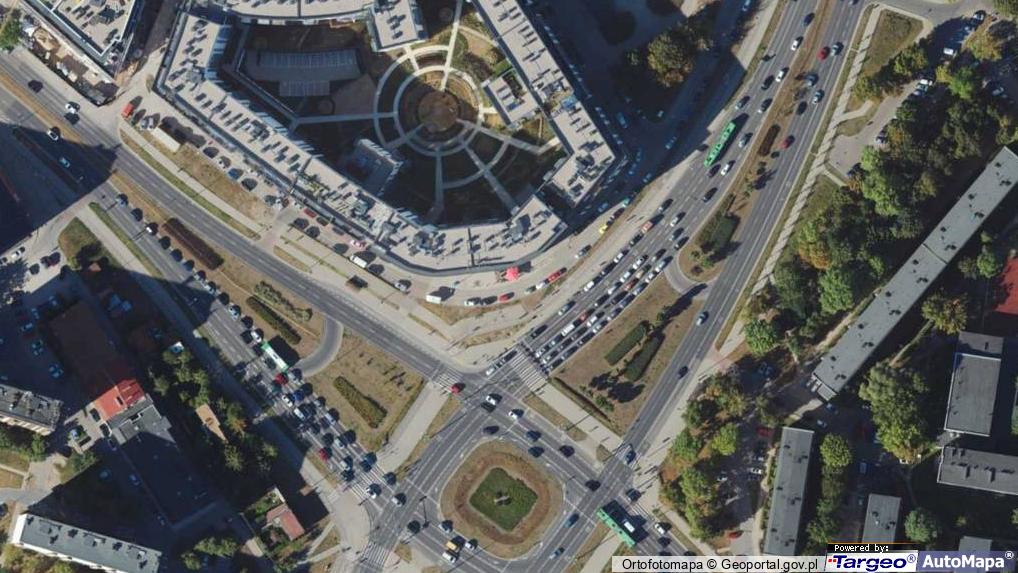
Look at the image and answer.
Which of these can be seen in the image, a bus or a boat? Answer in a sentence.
Visible in the photo is a bus.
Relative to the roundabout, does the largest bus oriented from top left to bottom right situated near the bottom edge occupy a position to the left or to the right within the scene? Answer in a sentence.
Looking at the picture, you'll find the largest bus oriented from top left to bottom right situated near the bottom edge to the right of the roundabout.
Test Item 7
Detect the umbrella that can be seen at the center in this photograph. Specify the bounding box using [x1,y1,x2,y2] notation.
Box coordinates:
[505,266,520,281]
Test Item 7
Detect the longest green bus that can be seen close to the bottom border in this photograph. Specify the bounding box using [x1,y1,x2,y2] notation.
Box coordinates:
[597,506,636,545]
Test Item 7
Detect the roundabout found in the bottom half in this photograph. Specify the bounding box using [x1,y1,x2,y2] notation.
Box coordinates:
[440,438,565,558]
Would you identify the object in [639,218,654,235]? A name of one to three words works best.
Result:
vehicle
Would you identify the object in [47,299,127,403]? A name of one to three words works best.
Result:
building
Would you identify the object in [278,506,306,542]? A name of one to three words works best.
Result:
house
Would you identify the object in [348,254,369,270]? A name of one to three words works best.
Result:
vehicle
